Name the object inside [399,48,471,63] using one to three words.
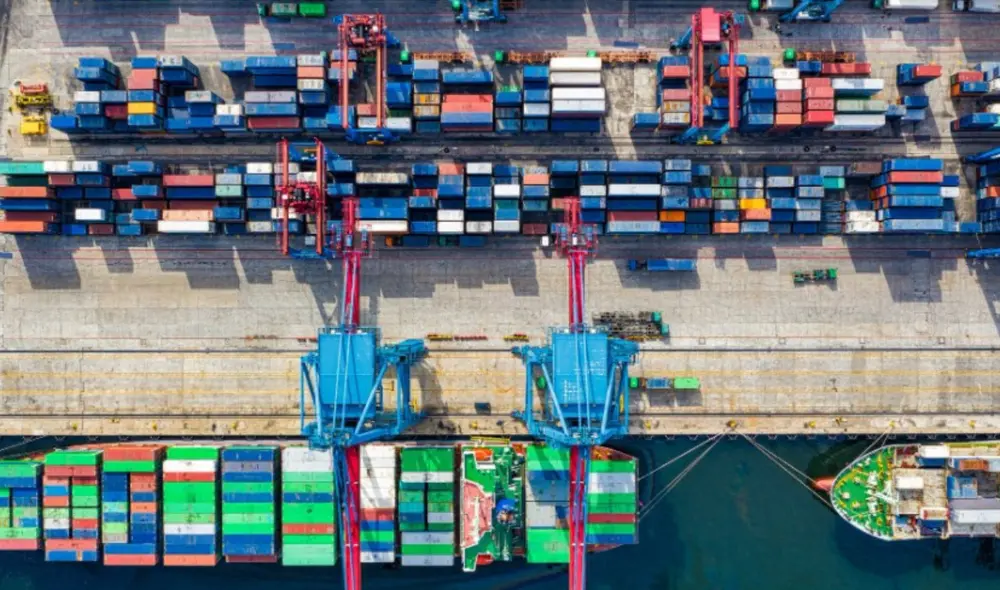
vehicle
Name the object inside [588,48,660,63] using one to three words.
vehicle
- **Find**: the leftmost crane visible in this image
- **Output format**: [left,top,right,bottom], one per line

[278,138,353,260]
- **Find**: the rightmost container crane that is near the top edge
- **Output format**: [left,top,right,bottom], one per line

[774,0,847,21]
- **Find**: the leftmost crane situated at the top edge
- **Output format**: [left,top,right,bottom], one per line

[339,13,406,148]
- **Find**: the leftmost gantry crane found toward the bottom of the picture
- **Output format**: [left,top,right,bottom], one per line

[300,195,436,590]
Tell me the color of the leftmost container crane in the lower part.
blue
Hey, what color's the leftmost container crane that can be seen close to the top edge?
red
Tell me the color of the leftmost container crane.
red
